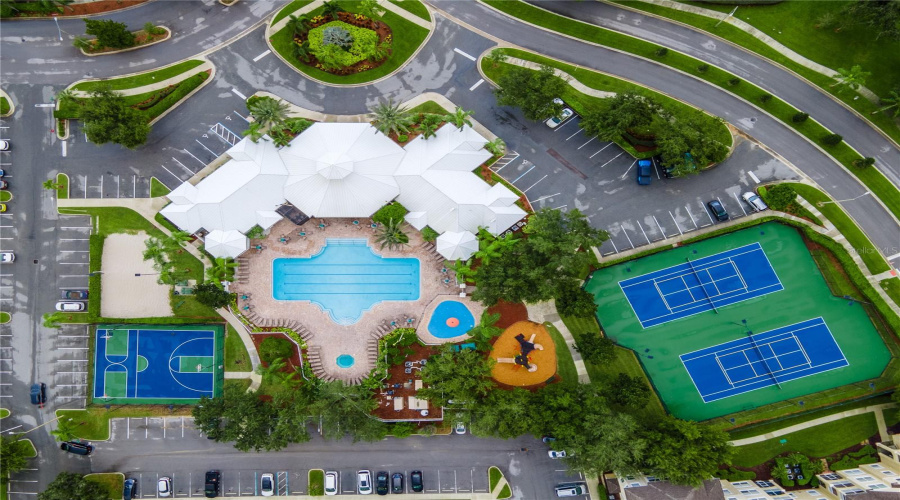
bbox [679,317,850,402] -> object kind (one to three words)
tennis court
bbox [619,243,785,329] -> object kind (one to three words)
tennis court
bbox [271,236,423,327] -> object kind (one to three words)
swimming pool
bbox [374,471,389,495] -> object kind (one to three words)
car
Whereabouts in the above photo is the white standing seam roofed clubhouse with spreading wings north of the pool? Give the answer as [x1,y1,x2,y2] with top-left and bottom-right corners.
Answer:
[159,122,527,237]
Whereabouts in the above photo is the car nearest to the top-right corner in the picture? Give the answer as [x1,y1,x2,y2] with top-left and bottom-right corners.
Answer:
[743,189,764,214]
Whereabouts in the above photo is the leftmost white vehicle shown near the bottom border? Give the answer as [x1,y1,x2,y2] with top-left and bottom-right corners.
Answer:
[157,475,172,496]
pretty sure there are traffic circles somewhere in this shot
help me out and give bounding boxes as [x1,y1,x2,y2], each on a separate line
[262,0,438,87]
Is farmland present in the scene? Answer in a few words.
No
